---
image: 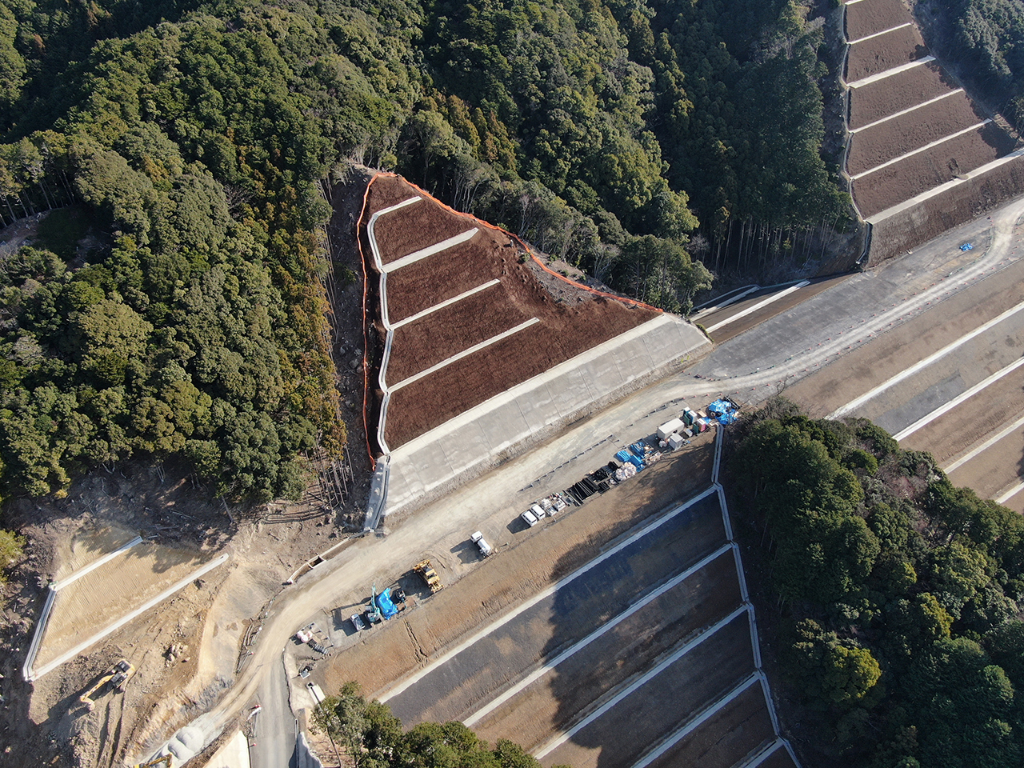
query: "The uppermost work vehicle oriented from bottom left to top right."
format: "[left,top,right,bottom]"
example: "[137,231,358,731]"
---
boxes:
[75,659,136,710]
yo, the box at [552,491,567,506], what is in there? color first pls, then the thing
white vehicle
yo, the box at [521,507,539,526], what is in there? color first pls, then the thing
white vehicle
